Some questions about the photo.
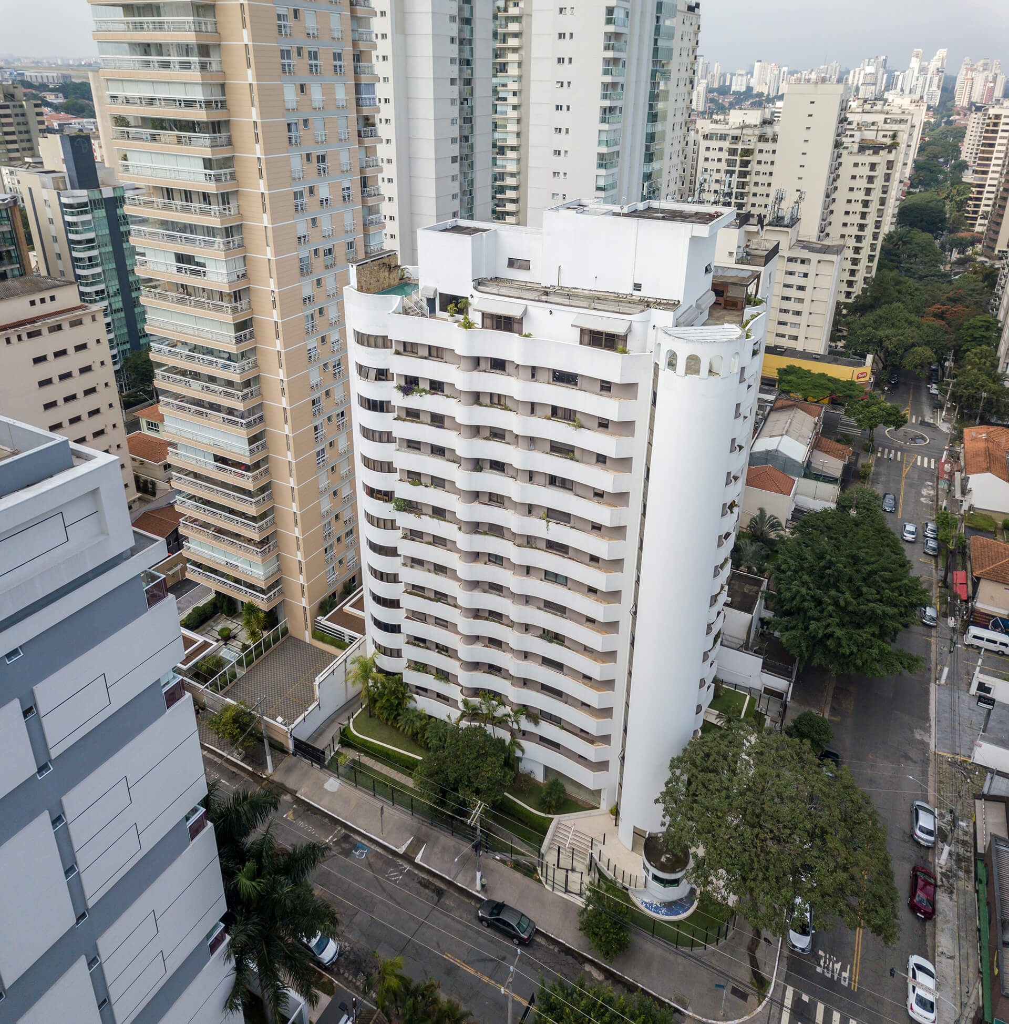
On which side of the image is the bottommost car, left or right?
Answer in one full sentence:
You can find the bottommost car on the right side of the picture.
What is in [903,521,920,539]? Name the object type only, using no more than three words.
car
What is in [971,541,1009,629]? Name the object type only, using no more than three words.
house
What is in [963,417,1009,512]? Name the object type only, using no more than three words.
house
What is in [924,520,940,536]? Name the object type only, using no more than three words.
car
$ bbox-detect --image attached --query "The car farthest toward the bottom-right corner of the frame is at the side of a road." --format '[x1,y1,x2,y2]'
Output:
[908,955,942,1021]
